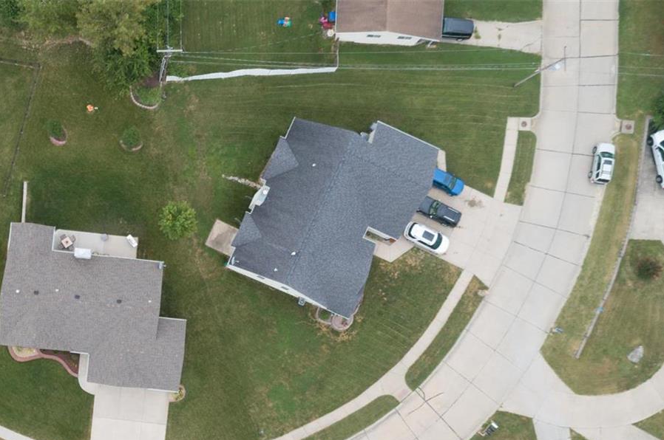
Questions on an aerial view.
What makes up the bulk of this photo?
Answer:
grass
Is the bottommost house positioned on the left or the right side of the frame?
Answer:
left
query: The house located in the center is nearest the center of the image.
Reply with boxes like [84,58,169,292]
[227,117,440,319]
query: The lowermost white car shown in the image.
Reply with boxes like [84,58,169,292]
[402,223,449,254]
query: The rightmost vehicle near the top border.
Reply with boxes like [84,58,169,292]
[440,17,476,40]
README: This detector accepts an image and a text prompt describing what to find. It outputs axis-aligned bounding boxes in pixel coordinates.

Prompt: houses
[227,117,440,319]
[0,221,187,393]
[333,0,442,49]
